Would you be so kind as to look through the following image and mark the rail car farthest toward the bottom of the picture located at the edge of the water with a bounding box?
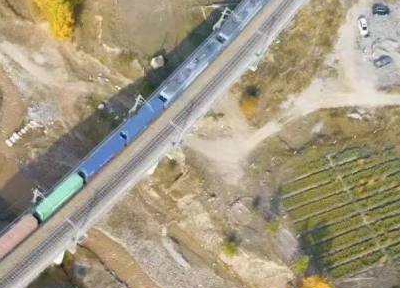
[0,211,39,262]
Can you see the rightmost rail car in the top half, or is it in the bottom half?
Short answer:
top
